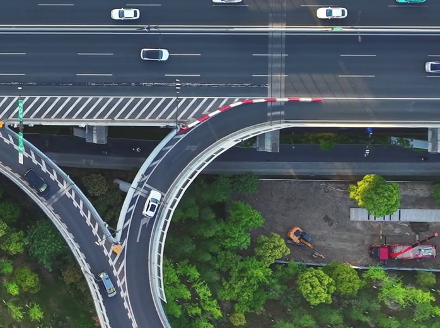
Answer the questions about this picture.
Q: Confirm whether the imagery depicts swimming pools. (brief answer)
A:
No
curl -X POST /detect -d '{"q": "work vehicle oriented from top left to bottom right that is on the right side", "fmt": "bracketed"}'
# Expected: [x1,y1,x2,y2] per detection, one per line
[286,229,325,263]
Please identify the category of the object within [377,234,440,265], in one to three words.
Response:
truck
